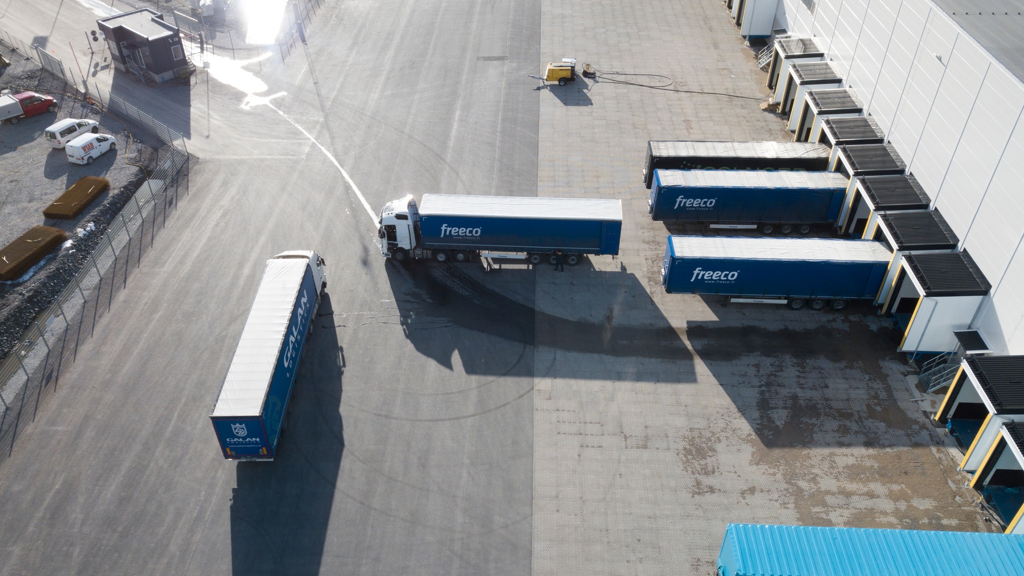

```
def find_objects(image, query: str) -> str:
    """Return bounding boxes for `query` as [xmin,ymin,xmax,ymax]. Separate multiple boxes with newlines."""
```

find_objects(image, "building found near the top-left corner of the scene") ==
[96,7,186,81]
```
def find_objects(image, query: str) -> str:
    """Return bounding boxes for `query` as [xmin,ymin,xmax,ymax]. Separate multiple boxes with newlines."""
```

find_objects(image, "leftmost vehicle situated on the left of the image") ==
[0,91,59,125]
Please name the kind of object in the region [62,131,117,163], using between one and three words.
van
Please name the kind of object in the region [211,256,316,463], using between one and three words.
trailer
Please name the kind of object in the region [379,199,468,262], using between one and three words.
truck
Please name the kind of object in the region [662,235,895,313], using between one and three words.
trailer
